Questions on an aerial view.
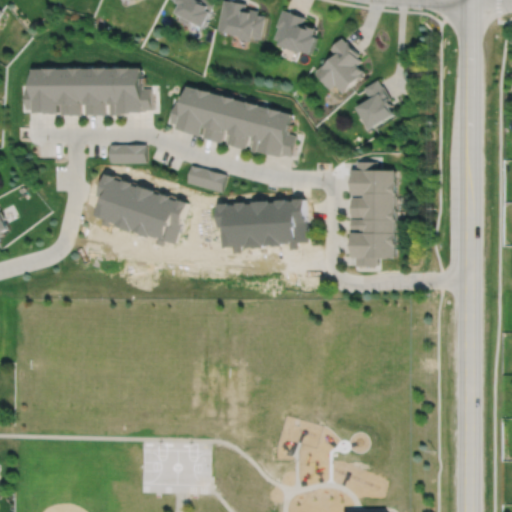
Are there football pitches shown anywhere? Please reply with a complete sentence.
Yes, the picture does show a football pitch.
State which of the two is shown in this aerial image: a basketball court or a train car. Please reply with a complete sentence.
There is a basketball court in the scene.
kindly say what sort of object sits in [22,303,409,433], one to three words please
soccer field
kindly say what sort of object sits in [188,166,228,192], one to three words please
building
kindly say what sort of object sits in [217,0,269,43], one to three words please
house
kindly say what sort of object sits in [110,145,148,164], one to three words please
building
